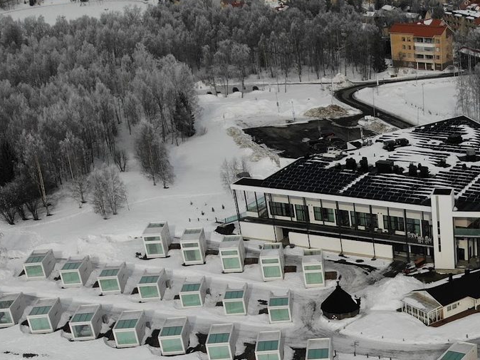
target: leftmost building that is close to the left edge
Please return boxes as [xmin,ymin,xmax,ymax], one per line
[0,292,27,331]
